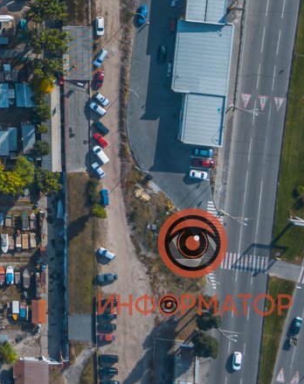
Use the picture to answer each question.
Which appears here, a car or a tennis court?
car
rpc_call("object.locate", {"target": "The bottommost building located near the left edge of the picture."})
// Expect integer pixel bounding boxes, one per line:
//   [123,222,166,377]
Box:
[9,353,49,384]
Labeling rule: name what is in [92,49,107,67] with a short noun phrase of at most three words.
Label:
car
